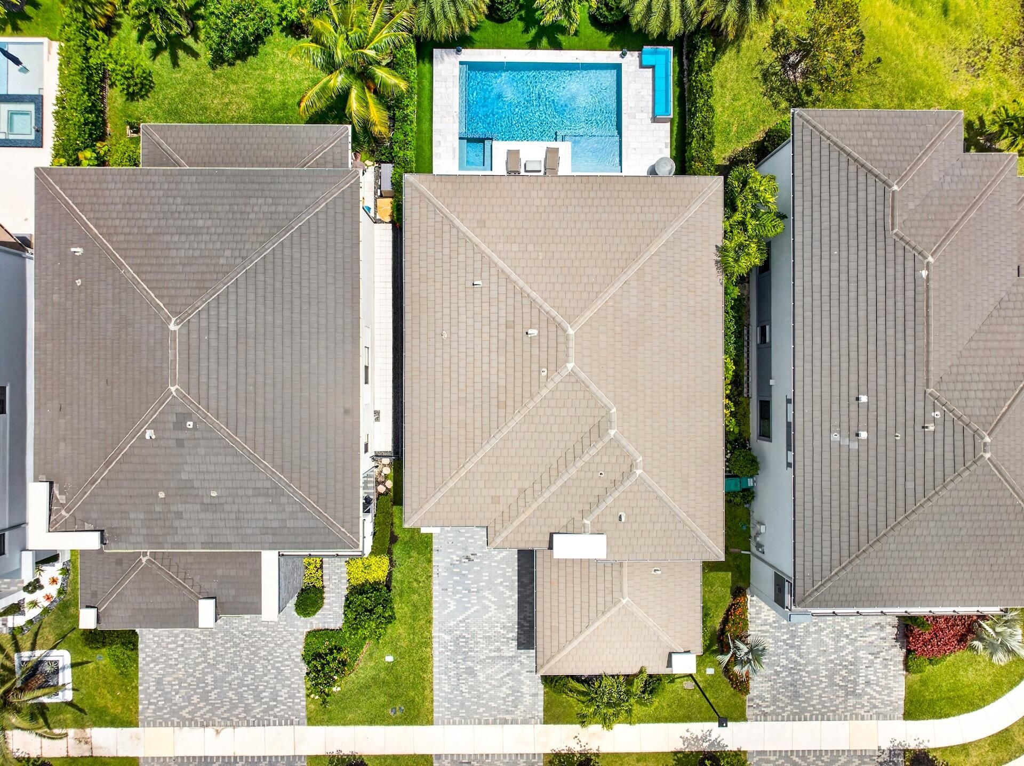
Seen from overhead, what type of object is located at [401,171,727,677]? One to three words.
house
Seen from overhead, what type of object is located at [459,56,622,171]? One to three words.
swimming pool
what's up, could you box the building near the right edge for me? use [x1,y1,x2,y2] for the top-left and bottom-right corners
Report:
[743,107,1024,627]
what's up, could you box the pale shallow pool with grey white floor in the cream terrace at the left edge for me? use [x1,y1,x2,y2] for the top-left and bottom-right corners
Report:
[0,42,43,94]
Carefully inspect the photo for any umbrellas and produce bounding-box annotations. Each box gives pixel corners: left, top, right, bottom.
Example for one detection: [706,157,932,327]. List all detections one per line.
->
[0,48,28,70]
